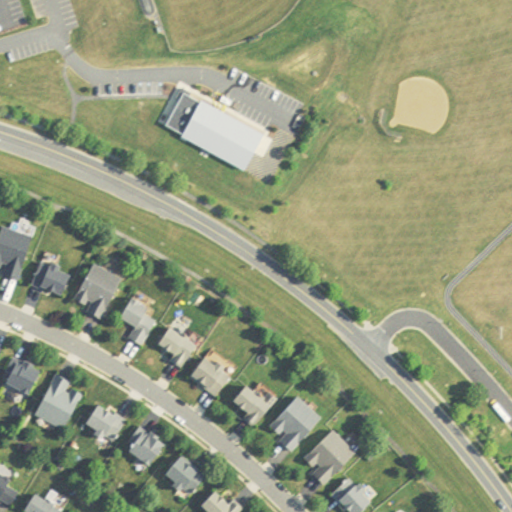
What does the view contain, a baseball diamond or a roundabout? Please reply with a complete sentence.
Looking from above, you can make out a baseball diamond.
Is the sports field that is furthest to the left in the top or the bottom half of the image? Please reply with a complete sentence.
You can find the sports field that is furthest to the left in the top half.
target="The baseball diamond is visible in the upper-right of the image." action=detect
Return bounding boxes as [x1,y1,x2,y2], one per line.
[380,76,450,142]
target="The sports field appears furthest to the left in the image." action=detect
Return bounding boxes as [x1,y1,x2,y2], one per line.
[152,0,298,54]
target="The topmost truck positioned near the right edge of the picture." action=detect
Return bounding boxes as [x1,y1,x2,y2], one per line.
[490,400,512,424]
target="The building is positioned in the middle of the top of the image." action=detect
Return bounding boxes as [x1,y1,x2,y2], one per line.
[156,88,264,172]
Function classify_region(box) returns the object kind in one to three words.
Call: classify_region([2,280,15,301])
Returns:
vehicle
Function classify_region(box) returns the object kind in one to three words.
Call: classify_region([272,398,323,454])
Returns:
house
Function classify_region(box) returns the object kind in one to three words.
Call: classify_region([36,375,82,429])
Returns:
house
